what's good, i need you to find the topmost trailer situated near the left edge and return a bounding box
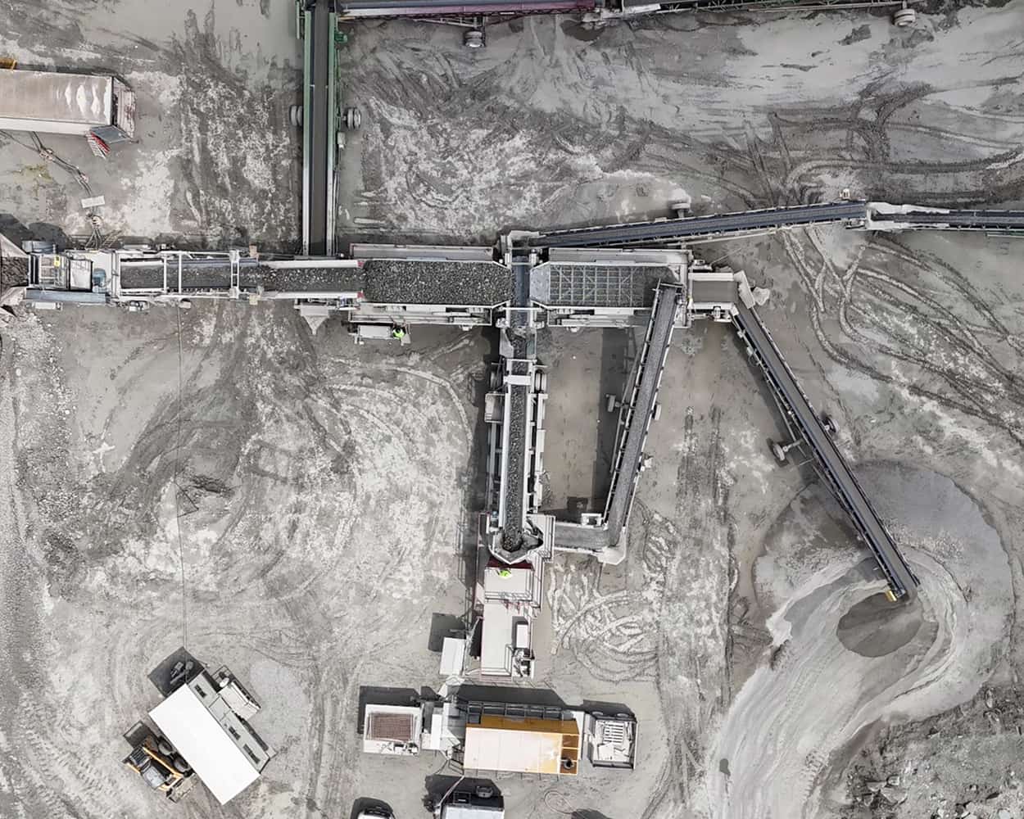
[0,71,139,140]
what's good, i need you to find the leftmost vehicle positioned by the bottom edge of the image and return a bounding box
[122,742,200,803]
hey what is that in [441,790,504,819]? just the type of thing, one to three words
van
